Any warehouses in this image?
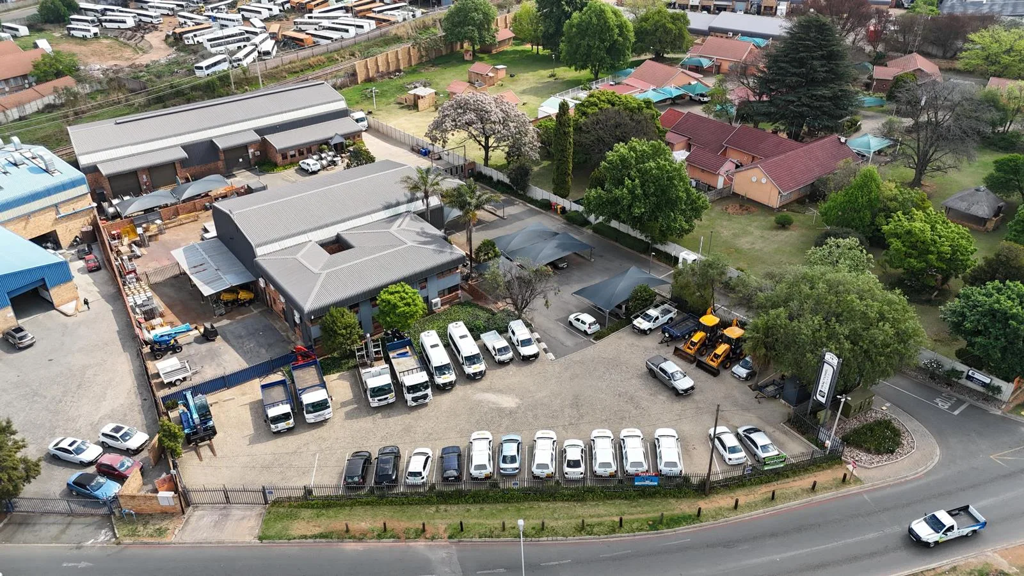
Yes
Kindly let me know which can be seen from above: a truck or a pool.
truck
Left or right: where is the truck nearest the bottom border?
right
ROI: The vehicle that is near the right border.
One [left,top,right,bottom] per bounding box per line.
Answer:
[909,503,990,548]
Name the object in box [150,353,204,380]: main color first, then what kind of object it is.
white trailer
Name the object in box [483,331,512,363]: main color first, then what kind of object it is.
white truck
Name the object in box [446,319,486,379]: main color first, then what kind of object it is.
white vehicle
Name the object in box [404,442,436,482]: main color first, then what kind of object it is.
white car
